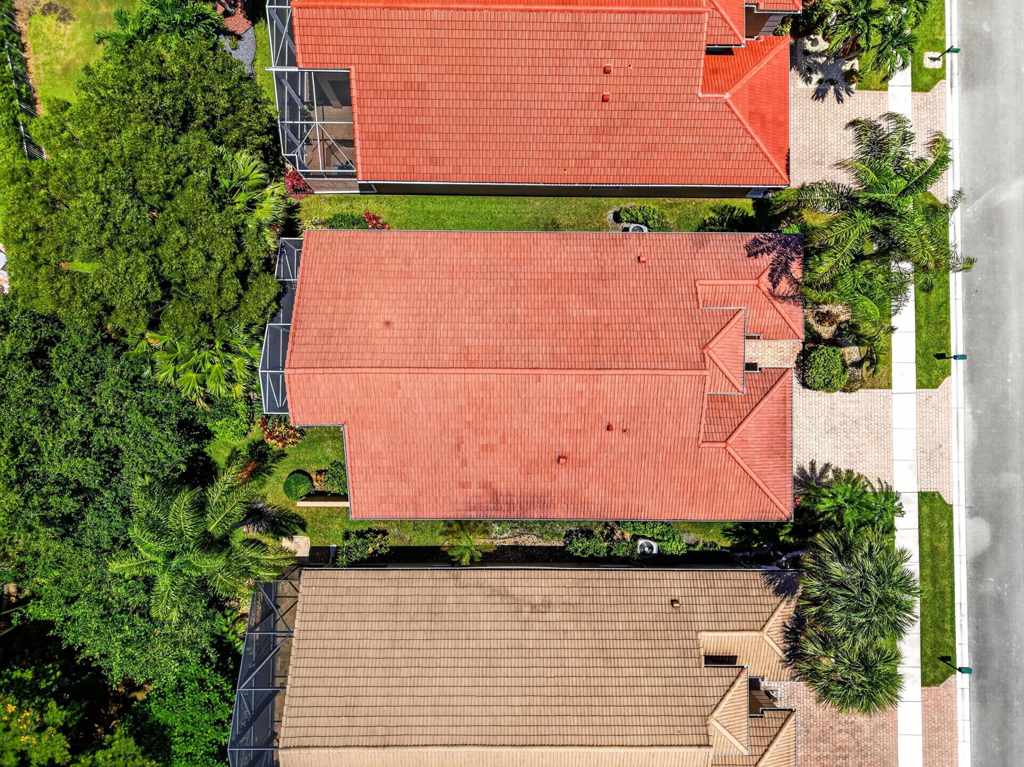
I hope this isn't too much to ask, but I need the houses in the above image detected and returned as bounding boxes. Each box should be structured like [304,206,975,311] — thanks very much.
[291,0,810,201]
[283,227,808,525]
[275,538,808,767]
